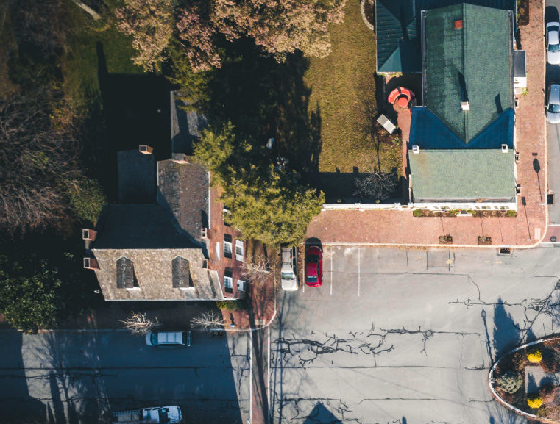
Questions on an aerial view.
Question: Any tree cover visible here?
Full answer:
Yes, there's tree cover in this view.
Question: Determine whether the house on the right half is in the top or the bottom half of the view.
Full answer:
The house on the right half is in the top half of the image.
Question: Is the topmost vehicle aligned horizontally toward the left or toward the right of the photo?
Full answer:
You can find the topmost vehicle aligned horizontally on the left side of the picture.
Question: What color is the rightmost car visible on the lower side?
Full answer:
From above, the rightmost car visible on the lower side appears red.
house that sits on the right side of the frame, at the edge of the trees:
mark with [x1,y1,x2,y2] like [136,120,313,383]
[376,0,528,219]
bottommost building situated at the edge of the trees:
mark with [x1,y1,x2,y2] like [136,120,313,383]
[78,145,243,307]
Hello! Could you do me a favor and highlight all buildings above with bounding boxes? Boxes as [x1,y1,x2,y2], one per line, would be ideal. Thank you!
[78,145,243,307]
[376,0,528,219]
